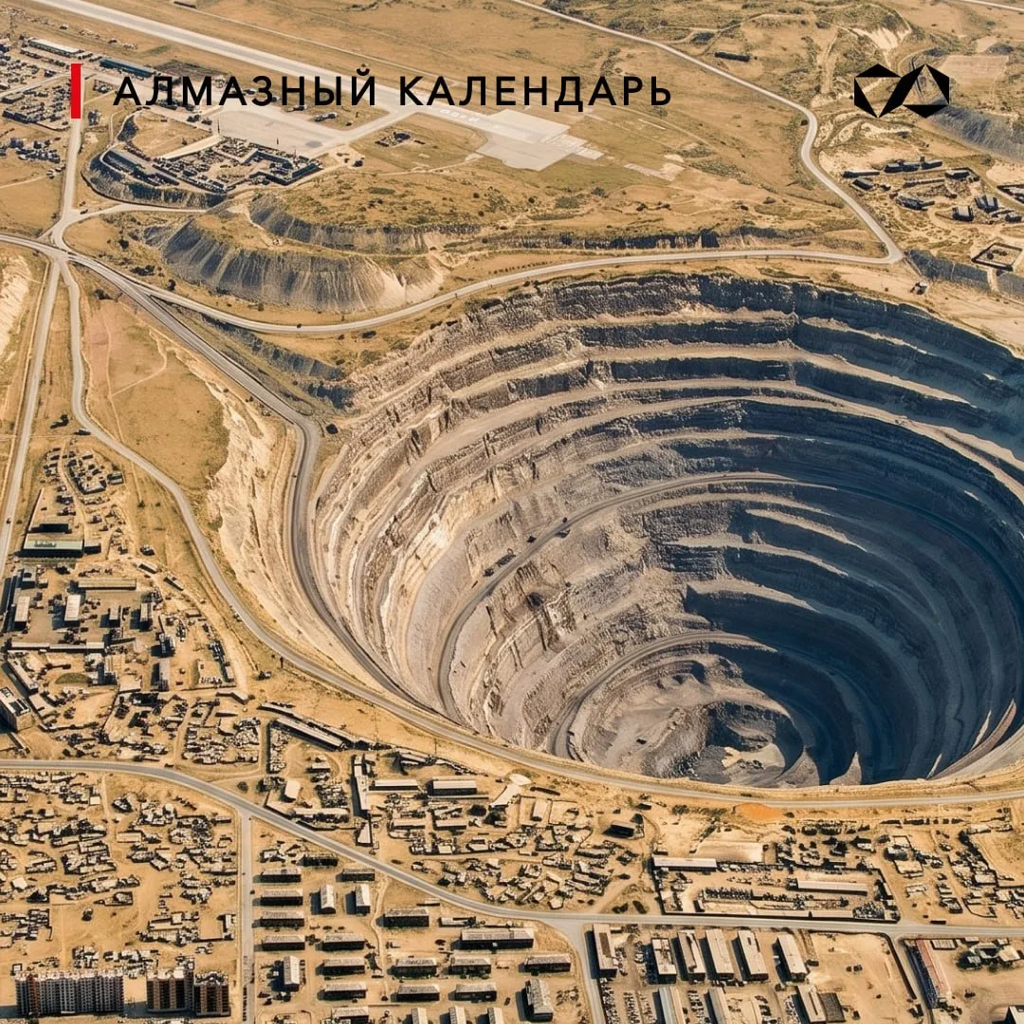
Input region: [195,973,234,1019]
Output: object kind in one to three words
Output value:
building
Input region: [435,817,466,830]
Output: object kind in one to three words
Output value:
shed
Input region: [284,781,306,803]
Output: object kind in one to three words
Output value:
house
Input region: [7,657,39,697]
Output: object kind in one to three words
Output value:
barn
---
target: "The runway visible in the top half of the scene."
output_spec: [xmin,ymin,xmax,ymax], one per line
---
[55,0,563,139]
